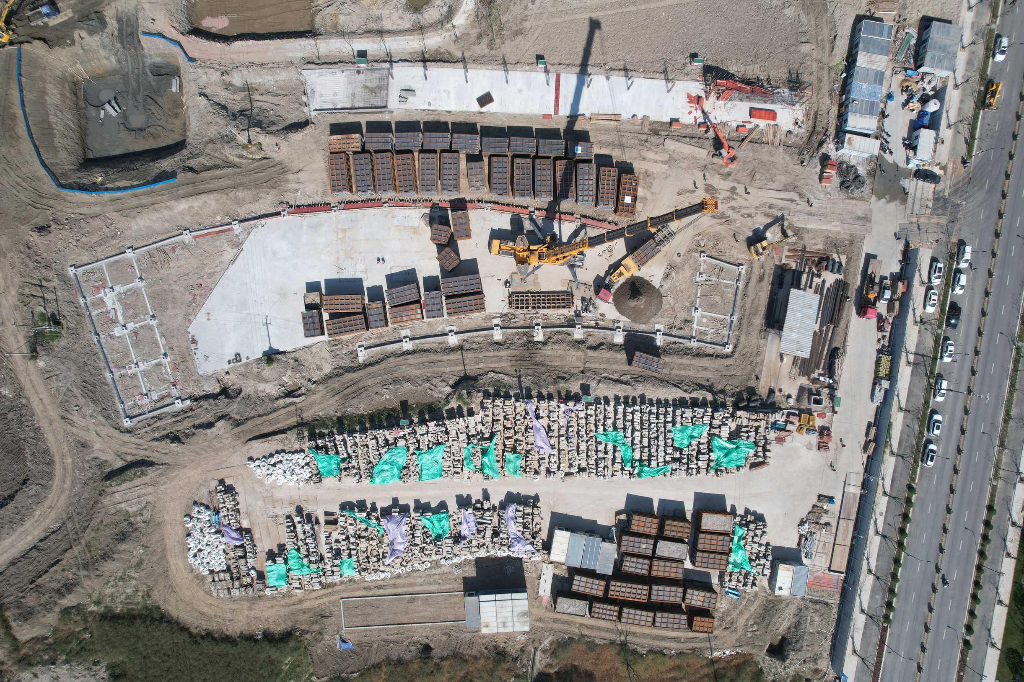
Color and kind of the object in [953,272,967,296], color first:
white car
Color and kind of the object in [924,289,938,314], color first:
white car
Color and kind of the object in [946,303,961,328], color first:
black car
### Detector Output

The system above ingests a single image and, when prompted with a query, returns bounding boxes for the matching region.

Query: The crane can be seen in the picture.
[490,196,719,291]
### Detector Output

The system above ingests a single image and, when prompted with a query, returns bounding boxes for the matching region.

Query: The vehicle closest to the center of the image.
[595,226,676,304]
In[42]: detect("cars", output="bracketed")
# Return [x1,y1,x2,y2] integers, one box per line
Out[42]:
[928,413,943,438]
[993,36,1008,62]
[930,260,944,285]
[915,170,940,183]
[924,289,938,314]
[946,303,961,328]
[957,244,972,269]
[941,339,955,364]
[922,443,937,467]
[953,272,967,296]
